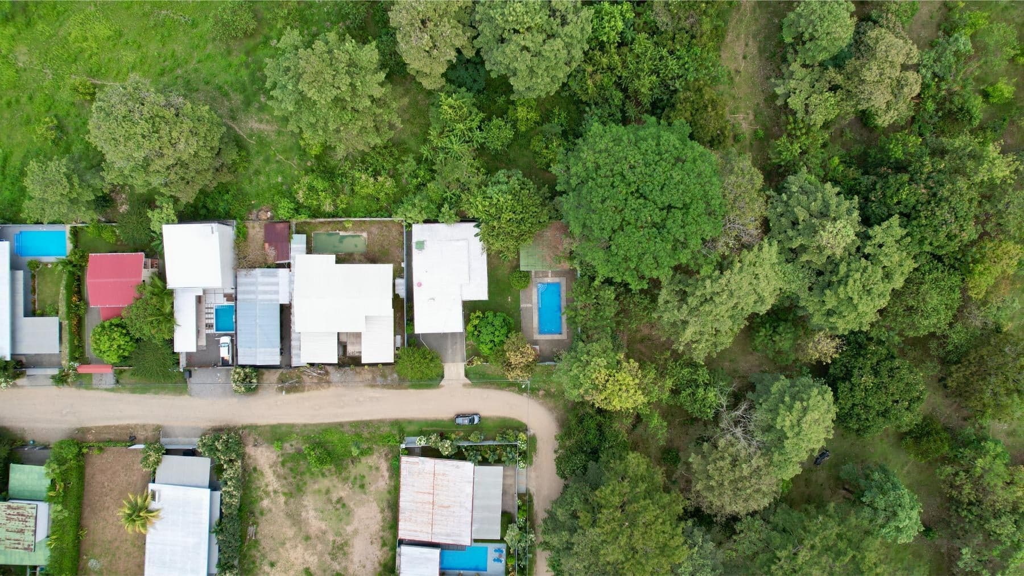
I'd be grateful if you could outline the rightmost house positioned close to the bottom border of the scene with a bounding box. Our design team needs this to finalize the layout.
[398,455,503,576]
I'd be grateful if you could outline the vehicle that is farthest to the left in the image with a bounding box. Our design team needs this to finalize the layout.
[219,335,233,365]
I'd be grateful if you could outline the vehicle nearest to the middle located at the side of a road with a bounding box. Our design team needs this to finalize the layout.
[455,413,480,426]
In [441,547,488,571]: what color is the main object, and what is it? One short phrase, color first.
blue swimming pool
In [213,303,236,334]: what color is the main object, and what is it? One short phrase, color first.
blue swimming pool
